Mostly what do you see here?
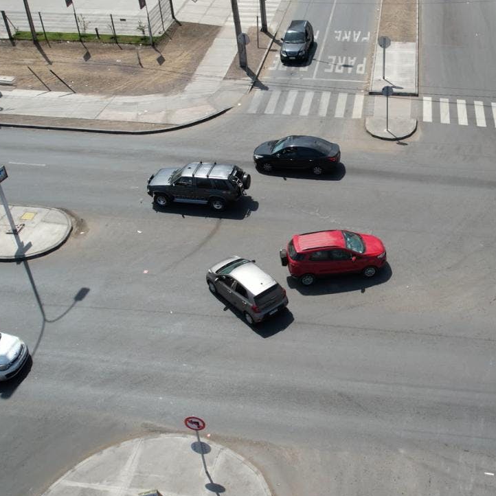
paved ground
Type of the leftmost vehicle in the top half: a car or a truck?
car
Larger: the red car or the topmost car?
the red car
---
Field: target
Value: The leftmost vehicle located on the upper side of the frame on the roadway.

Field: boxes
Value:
[138,157,247,213]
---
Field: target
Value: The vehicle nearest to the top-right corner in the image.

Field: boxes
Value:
[280,21,316,58]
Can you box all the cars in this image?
[138,157,247,213]
[251,133,341,175]
[280,21,316,58]
[206,254,293,327]
[0,322,28,379]
[279,225,385,286]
